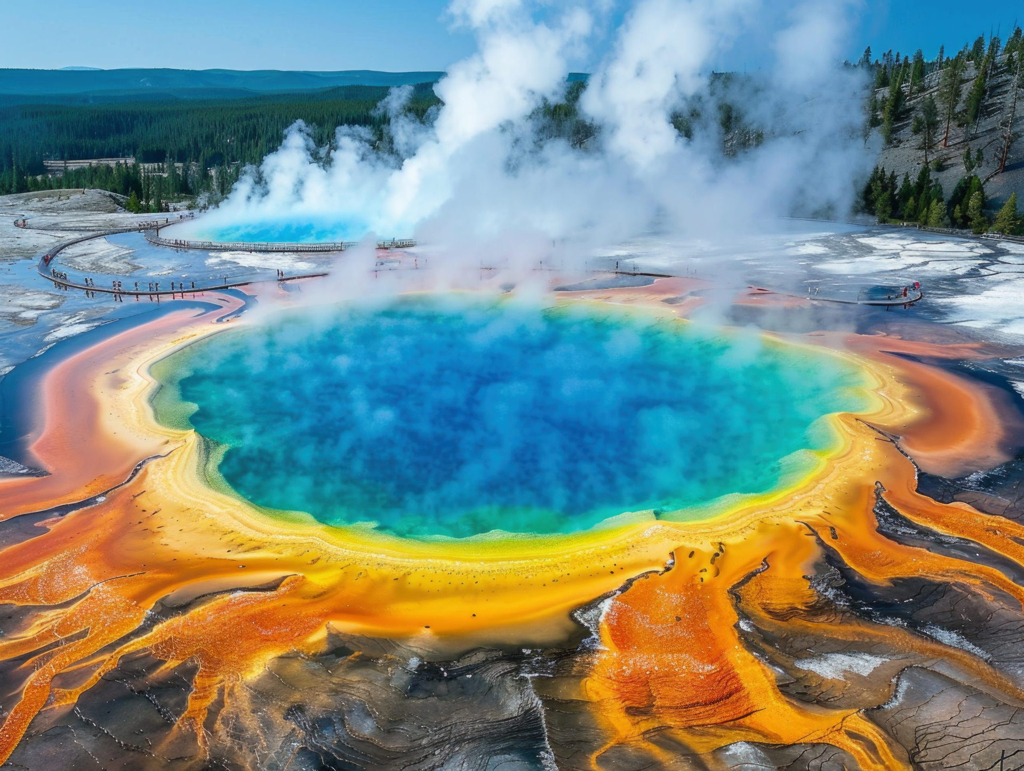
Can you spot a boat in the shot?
No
